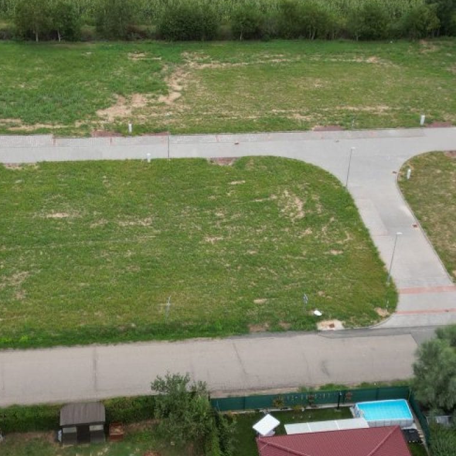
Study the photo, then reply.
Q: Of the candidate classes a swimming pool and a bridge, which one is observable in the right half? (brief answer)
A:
swimming pool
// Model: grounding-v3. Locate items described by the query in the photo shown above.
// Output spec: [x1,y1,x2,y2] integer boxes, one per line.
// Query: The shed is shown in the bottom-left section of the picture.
[58,393,107,449]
